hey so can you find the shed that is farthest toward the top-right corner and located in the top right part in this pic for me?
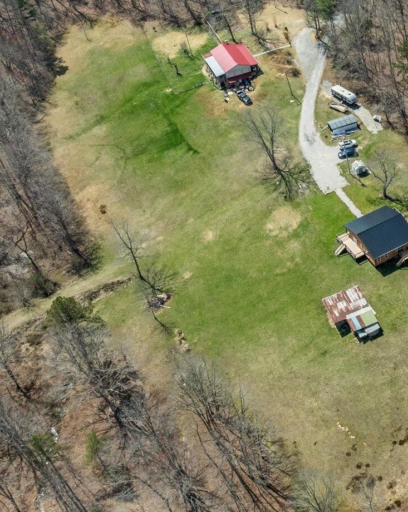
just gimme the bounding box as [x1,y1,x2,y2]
[327,114,359,136]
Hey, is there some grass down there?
Yes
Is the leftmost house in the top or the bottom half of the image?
top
